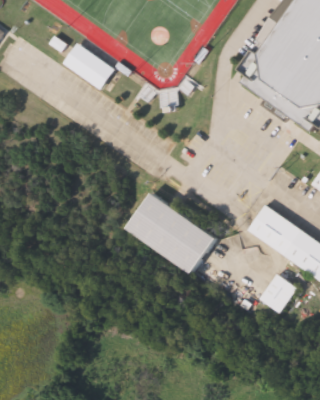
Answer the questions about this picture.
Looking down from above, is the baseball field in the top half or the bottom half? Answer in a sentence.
You can find the baseball field in the top half.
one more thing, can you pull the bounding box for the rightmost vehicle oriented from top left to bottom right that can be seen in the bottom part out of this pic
[280,268,295,280]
